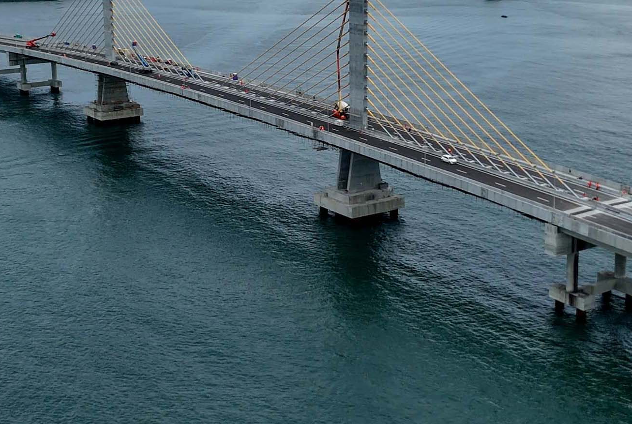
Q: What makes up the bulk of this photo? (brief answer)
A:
water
